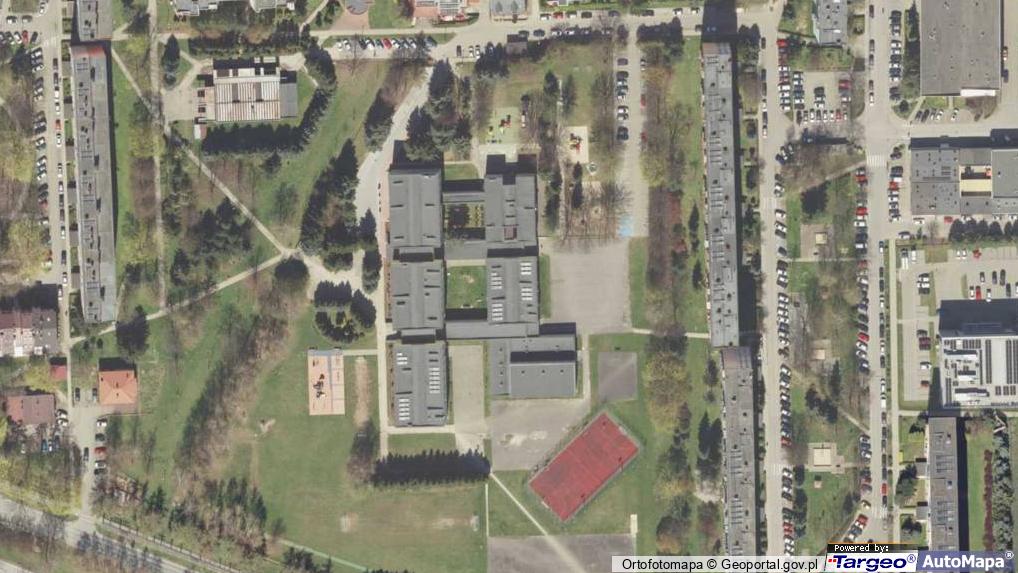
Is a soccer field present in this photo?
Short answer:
Yes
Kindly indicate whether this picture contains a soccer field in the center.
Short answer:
No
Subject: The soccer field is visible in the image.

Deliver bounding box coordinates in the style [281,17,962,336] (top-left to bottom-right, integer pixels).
[341,499,481,547]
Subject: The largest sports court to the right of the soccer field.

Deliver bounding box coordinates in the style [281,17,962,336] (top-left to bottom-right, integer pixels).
[527,410,641,525]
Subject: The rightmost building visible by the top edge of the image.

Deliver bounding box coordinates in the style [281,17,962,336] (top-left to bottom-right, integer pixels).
[921,0,1000,96]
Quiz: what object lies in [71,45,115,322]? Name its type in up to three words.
building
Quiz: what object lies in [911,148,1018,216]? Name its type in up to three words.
building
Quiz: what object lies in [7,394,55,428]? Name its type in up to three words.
house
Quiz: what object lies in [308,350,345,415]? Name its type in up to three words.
playground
